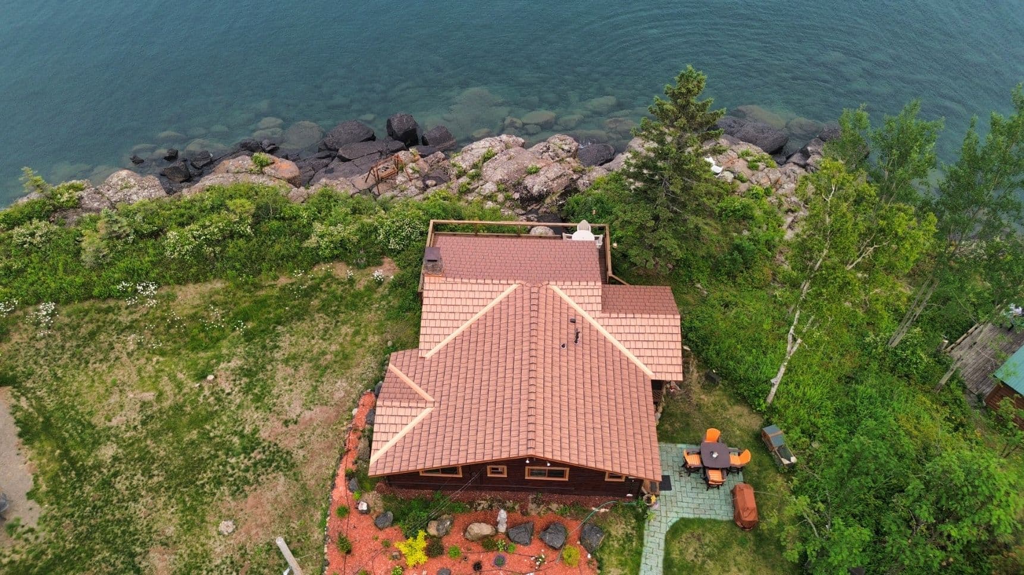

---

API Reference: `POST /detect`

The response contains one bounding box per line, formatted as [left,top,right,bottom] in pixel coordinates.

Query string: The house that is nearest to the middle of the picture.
[367,236,682,501]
